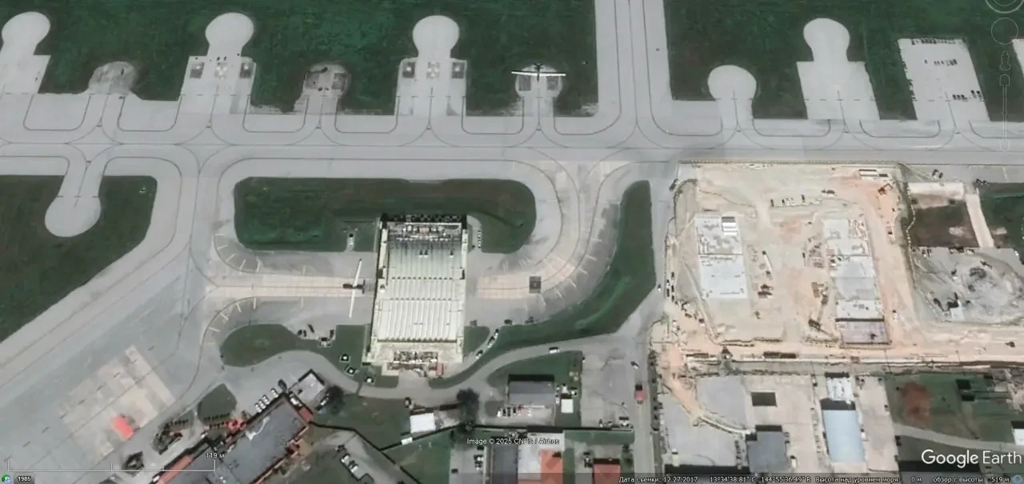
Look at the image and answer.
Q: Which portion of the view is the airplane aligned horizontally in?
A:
top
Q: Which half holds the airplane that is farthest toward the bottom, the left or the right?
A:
left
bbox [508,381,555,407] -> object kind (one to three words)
building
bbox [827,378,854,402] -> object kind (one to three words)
shed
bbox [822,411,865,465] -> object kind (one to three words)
building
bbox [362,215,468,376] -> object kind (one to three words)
hangar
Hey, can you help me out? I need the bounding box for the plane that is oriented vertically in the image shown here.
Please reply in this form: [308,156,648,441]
[343,260,365,314]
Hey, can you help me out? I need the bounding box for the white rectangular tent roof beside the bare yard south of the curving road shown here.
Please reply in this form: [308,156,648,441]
[409,412,437,435]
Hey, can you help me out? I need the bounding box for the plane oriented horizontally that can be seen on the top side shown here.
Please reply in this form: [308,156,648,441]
[512,62,566,84]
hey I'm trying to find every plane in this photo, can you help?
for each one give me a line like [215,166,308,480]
[343,260,365,314]
[512,62,566,84]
